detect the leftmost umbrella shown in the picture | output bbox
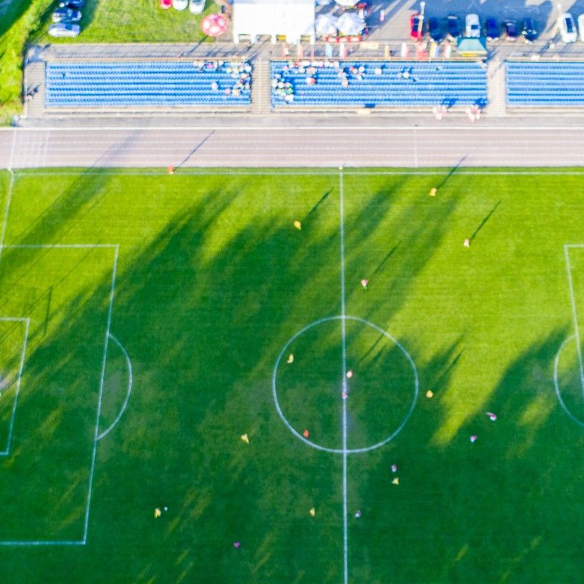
[203,16,226,38]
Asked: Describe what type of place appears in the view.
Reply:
sports ground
